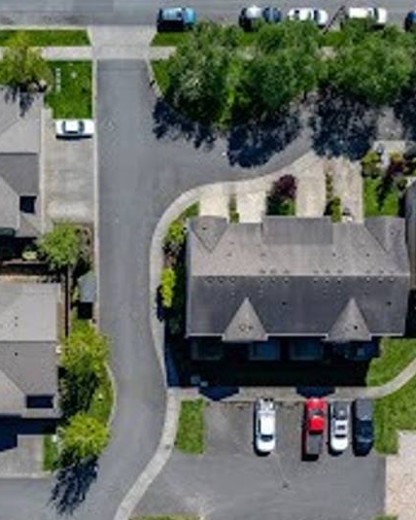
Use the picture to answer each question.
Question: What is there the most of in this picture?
paved ground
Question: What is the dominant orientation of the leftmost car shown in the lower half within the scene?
vertically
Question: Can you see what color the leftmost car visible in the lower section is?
white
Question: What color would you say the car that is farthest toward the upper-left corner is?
white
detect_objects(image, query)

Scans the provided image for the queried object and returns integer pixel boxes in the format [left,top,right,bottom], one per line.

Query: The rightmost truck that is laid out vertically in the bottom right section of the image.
[352,400,375,453]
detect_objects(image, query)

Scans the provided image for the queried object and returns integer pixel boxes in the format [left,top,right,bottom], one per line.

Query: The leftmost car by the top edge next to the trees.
[155,8,196,30]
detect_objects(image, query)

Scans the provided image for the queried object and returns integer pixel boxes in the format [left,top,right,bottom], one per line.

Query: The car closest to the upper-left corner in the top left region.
[52,119,95,139]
